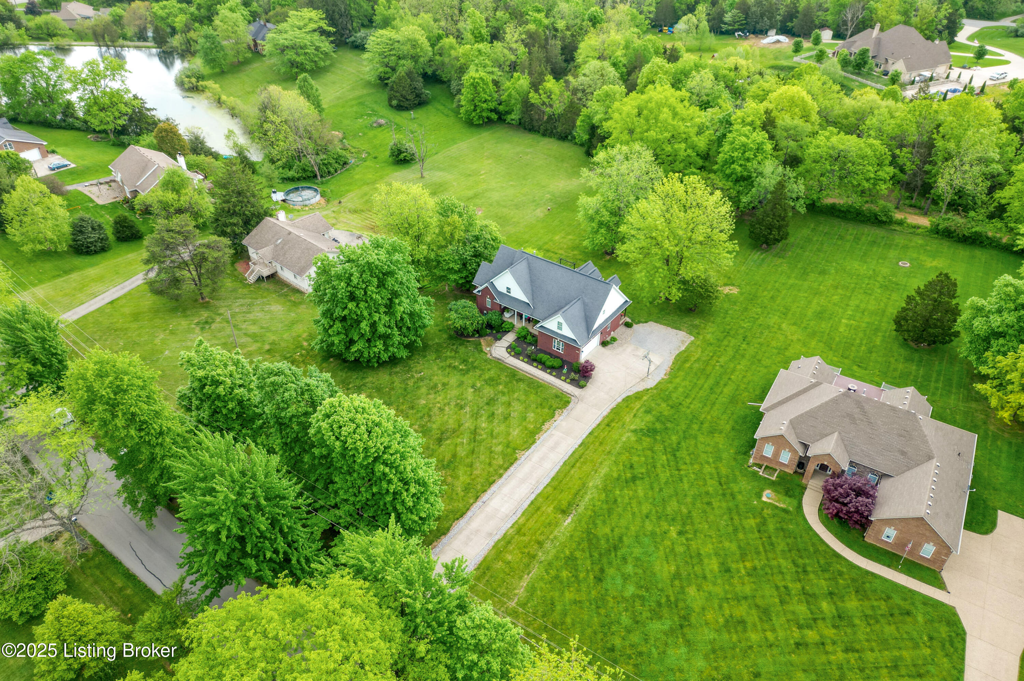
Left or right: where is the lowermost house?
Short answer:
right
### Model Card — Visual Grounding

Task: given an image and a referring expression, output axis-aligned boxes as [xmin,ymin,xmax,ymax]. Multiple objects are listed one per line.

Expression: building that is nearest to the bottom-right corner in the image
[753,355,983,572]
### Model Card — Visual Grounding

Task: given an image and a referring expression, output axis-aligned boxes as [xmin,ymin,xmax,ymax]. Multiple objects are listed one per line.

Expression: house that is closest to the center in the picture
[472,246,634,362]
